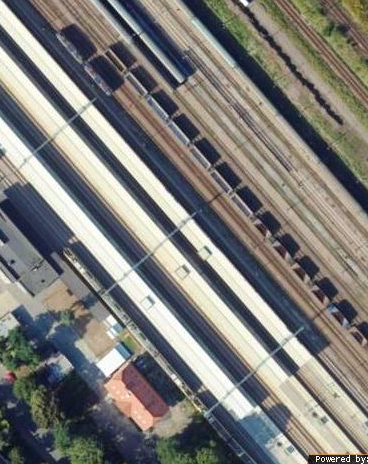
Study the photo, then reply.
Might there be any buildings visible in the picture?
Yes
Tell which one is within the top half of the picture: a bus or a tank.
bus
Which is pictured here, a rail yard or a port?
rail yard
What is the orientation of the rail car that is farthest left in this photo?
diagonally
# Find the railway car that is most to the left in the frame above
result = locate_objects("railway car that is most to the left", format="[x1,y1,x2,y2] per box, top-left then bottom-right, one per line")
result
[61,35,89,66]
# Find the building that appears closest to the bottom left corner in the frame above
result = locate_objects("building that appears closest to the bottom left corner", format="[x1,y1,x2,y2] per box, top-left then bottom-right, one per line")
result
[42,354,75,379]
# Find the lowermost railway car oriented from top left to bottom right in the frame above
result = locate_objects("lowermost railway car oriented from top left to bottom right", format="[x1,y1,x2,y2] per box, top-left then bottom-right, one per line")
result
[350,326,368,349]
